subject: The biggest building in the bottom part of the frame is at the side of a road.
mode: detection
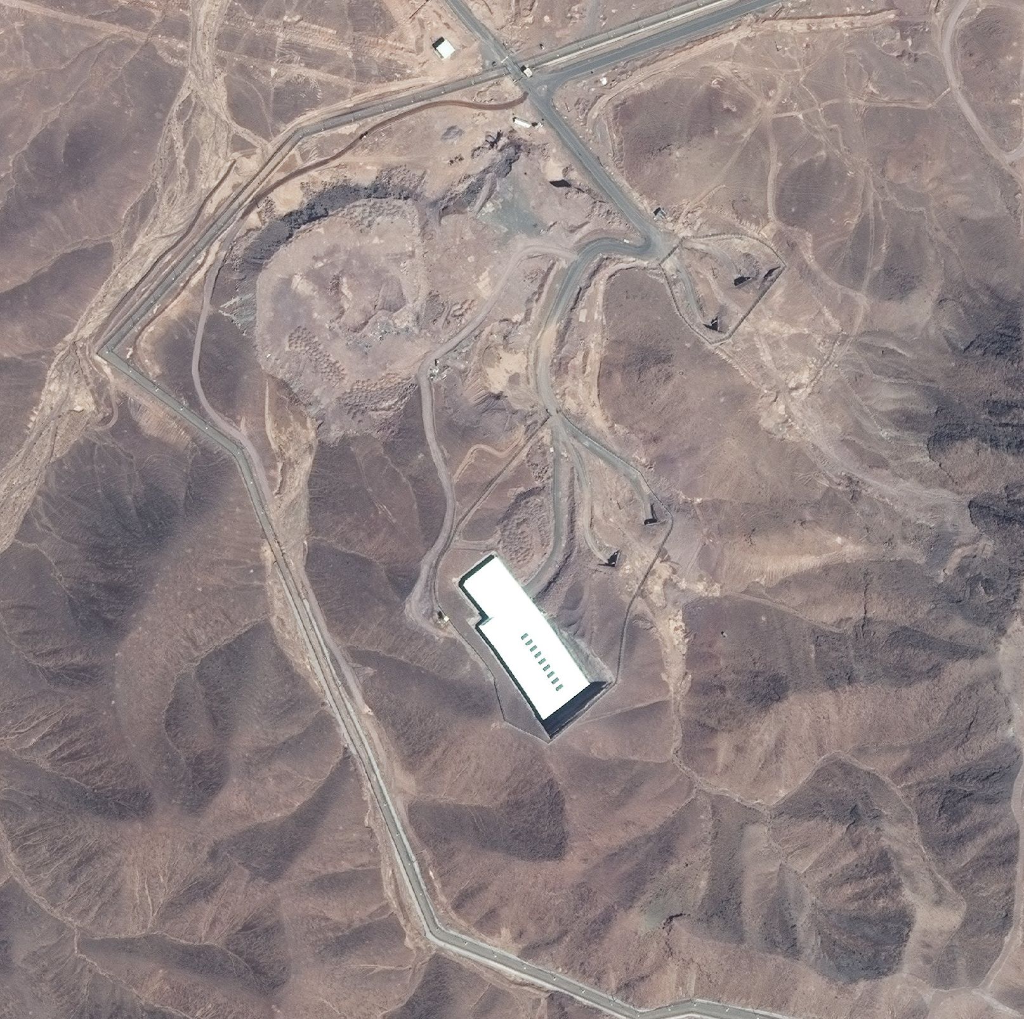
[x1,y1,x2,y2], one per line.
[463,557,592,720]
